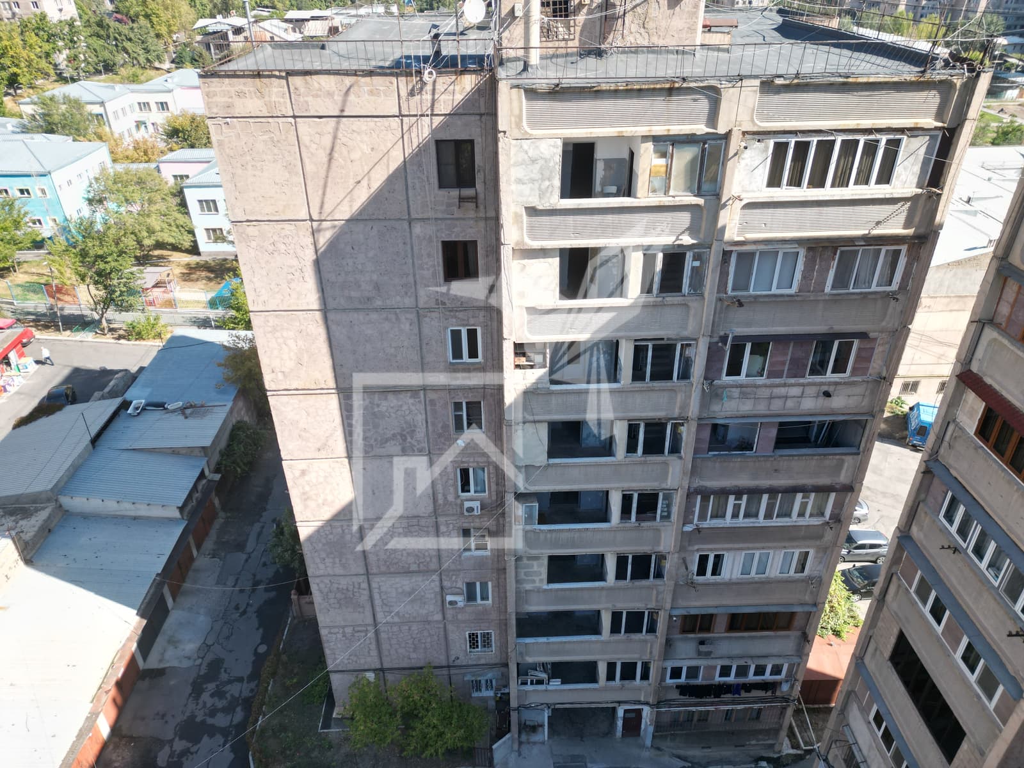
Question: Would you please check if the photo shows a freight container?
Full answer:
No, the photo shows no freight container.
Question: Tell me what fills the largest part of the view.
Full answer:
For the most part, this view shows buildings.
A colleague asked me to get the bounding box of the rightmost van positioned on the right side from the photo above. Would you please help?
[904,400,940,447]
